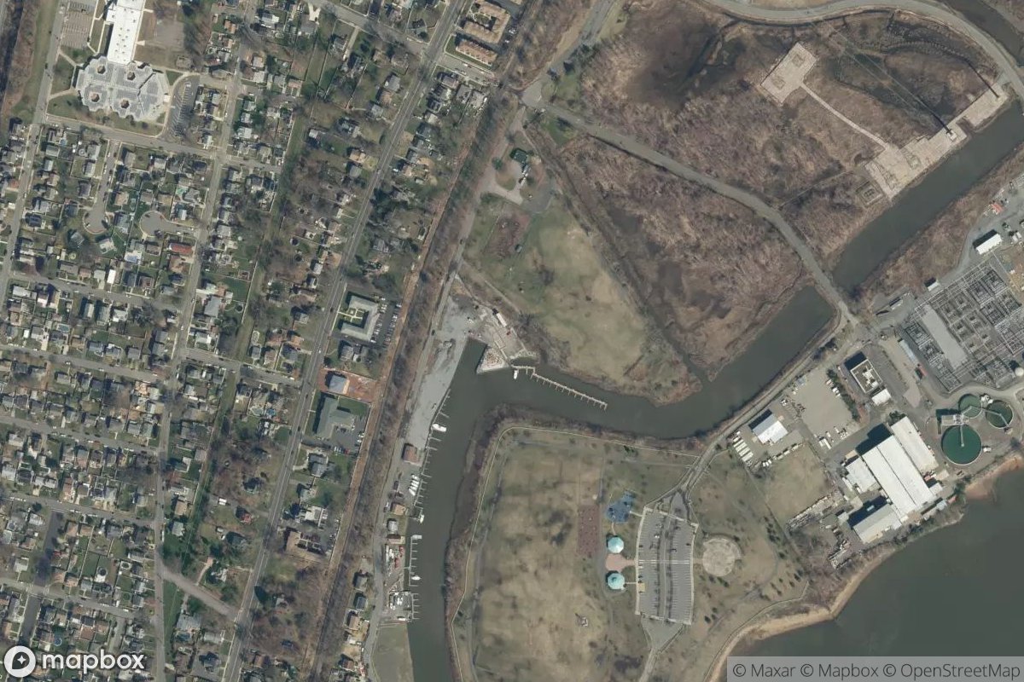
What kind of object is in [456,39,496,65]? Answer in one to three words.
house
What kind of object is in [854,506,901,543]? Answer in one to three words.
building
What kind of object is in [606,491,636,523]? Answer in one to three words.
playground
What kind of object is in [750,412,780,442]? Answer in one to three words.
building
